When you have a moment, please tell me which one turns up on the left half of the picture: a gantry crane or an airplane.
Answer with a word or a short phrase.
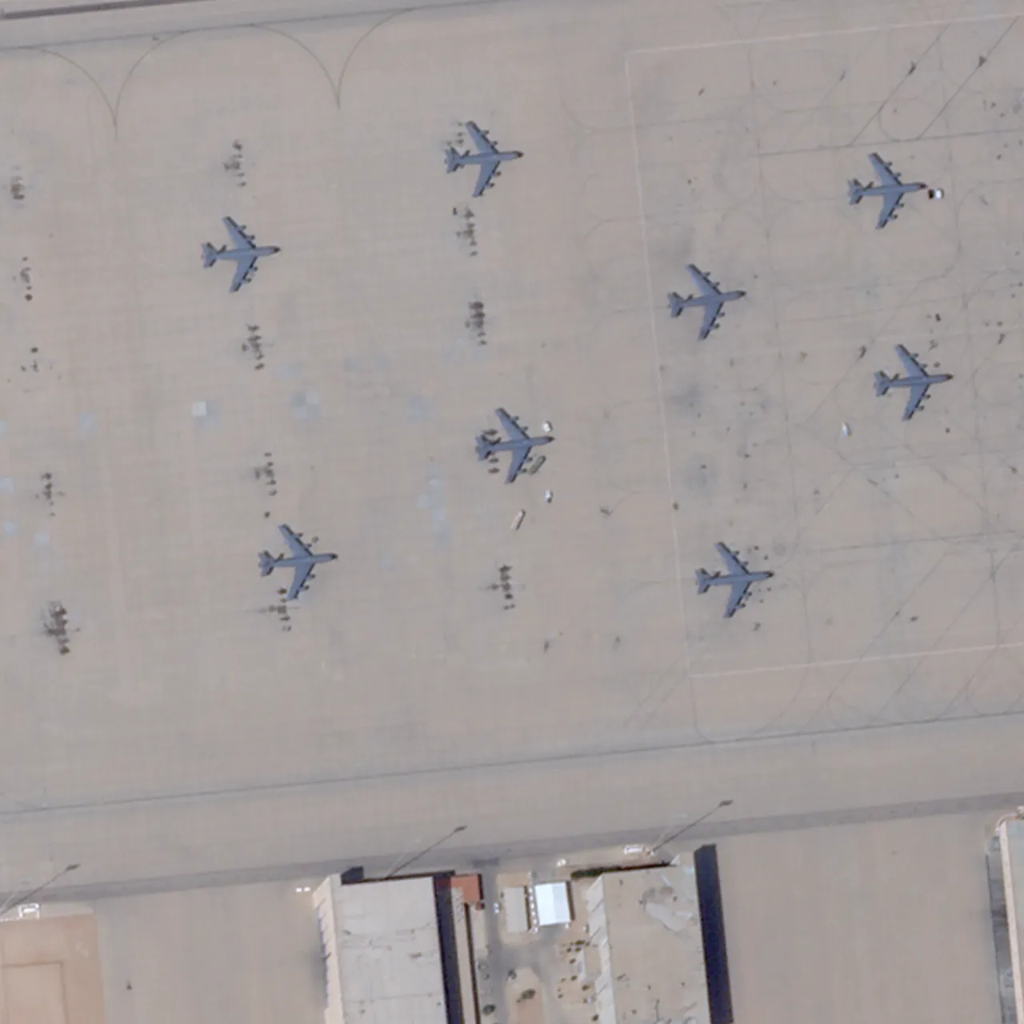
airplane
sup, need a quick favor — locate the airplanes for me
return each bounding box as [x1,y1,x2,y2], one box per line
[260,525,335,600]
[203,217,278,292]
[850,154,924,229]
[669,264,744,339]
[446,123,520,198]
[476,408,551,483]
[876,345,950,420]
[696,542,771,617]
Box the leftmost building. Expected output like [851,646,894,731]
[311,875,448,1024]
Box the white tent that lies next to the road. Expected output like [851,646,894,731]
[534,882,571,927]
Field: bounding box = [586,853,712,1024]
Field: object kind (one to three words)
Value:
hangar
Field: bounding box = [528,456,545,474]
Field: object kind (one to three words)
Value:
vehicle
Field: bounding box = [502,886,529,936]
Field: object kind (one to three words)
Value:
shed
